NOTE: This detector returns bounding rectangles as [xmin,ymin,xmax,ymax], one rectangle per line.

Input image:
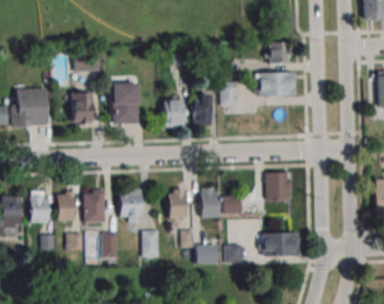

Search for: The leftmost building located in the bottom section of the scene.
[0,197,24,238]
